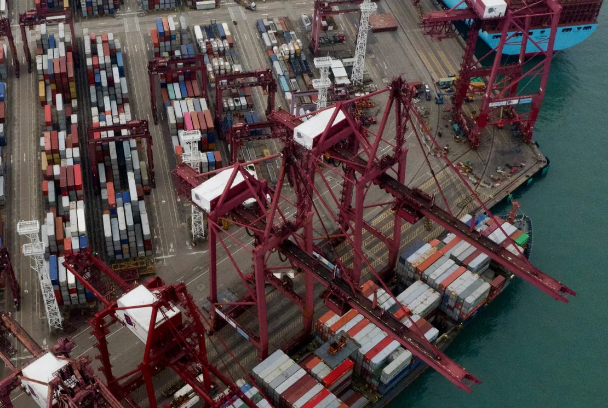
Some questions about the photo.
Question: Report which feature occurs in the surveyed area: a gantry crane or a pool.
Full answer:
The one in the frame is a gantry crane.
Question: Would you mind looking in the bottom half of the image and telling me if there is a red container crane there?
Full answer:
Yes, in the bottom half of the image there is a red container crane.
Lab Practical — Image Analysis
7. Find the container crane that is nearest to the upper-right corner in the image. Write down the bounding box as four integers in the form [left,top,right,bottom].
[417,0,576,150]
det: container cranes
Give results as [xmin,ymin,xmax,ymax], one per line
[15,8,80,72]
[272,74,582,303]
[85,120,156,193]
[0,18,18,77]
[168,146,479,402]
[0,244,18,314]
[214,66,275,133]
[0,300,121,408]
[65,246,283,408]
[230,103,294,166]
[417,0,576,150]
[148,55,212,123]
[309,0,365,57]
